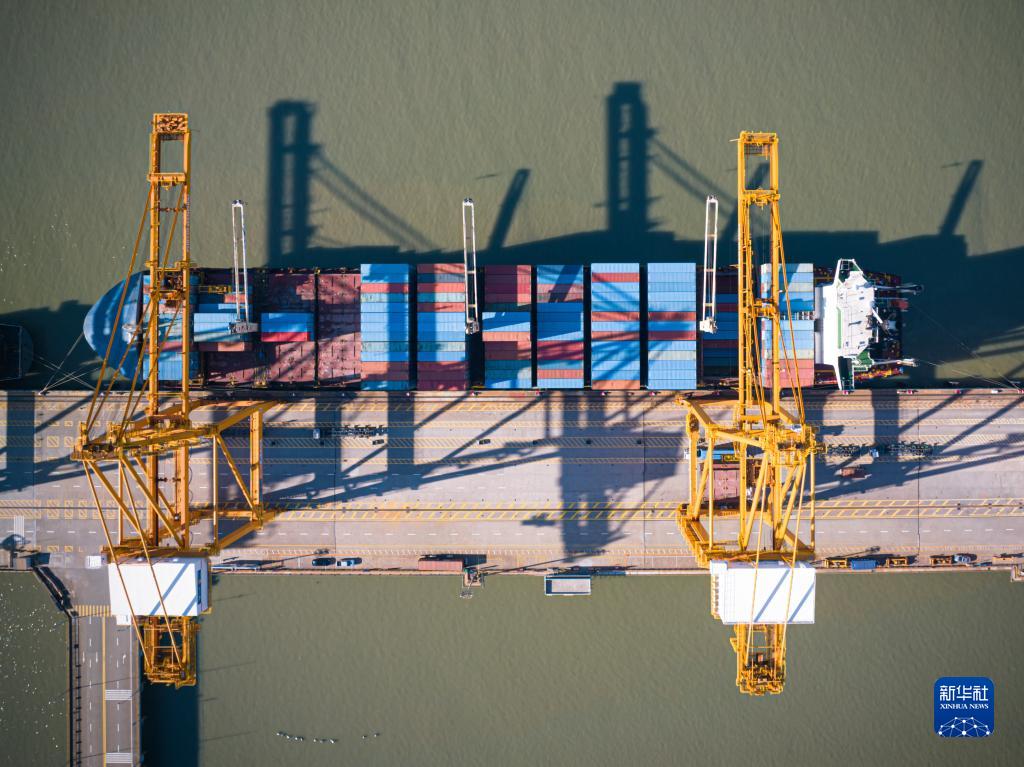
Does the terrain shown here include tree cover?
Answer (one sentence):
No, tree cover can't be seen anywhere here.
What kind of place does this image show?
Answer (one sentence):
The picture captures a port.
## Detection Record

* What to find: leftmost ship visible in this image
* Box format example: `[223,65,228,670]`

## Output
[0,322,46,382]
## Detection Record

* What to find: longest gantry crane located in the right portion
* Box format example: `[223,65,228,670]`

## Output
[670,131,830,695]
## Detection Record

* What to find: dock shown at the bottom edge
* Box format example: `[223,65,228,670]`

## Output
[31,570,145,767]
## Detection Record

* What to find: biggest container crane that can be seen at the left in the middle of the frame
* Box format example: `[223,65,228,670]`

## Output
[69,112,290,687]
